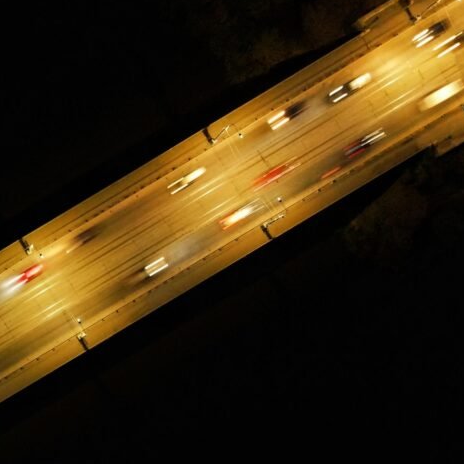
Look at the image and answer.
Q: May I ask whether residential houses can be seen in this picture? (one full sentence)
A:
No, this view has no residential house in it.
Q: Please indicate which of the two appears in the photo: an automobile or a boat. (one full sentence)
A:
There is an automobile in the scene.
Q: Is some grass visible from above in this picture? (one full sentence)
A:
No, there is no grass in the image.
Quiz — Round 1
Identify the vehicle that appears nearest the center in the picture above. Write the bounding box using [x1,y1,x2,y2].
[220,209,247,230]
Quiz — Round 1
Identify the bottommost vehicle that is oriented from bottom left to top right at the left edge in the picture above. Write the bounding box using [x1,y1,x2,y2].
[17,264,44,285]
